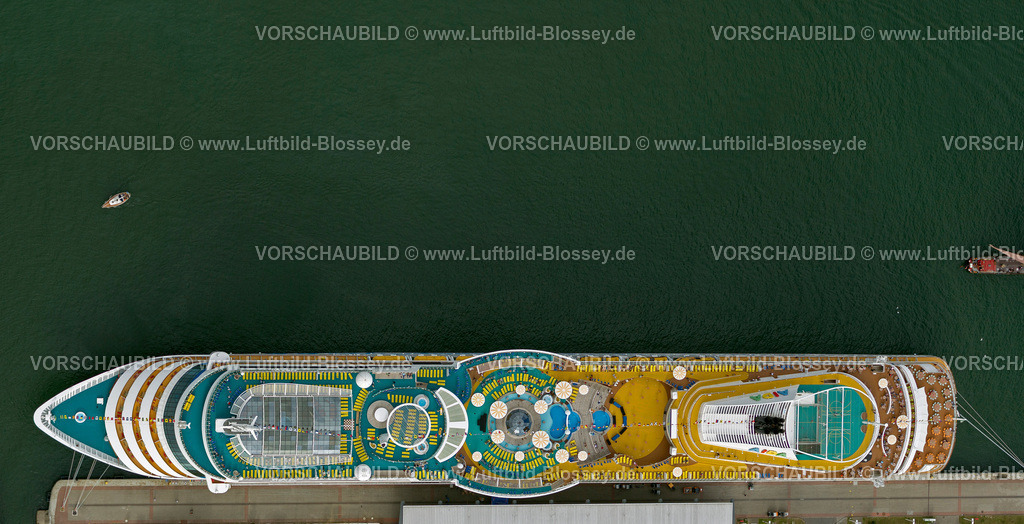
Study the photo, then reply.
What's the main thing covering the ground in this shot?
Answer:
water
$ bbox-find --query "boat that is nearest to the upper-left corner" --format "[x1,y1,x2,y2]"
[102,192,131,208]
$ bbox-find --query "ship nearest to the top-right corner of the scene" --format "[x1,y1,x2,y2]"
[962,243,1024,275]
